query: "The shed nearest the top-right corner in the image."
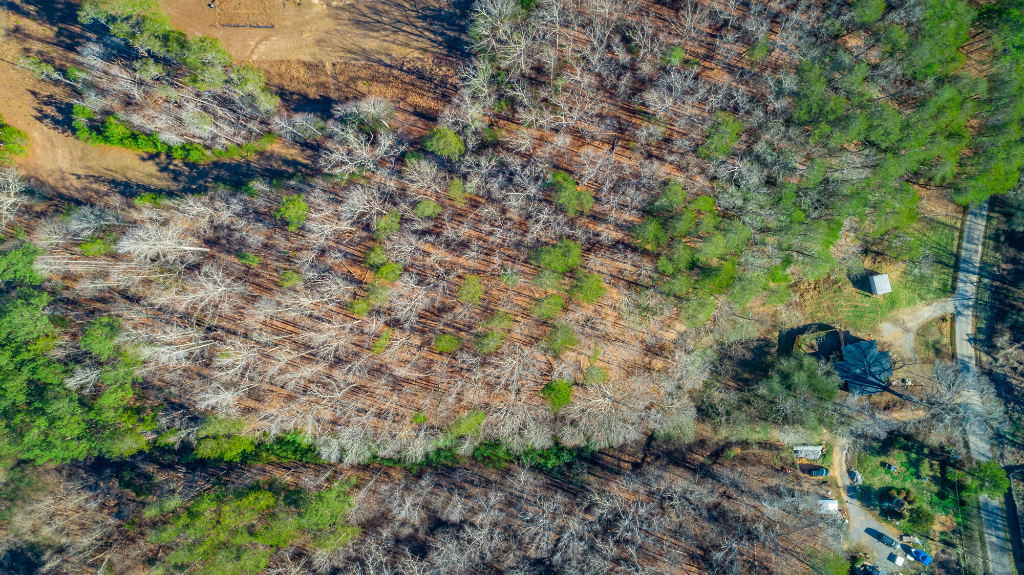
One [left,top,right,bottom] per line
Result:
[868,274,891,295]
